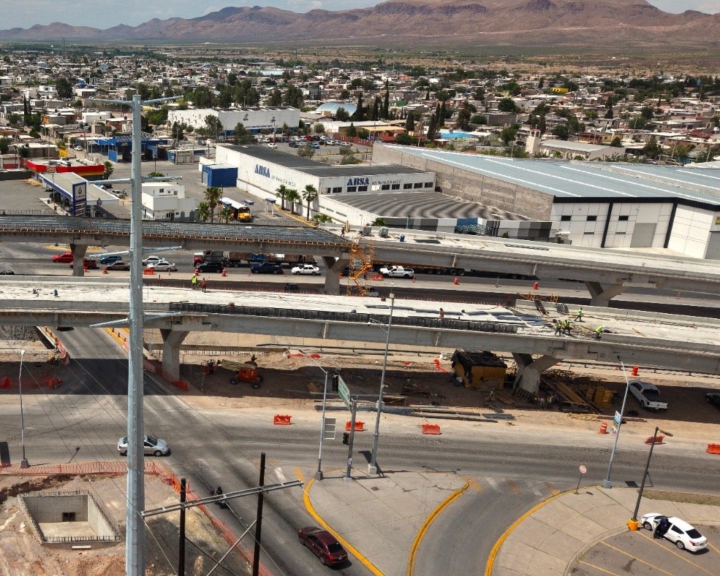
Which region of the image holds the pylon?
left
